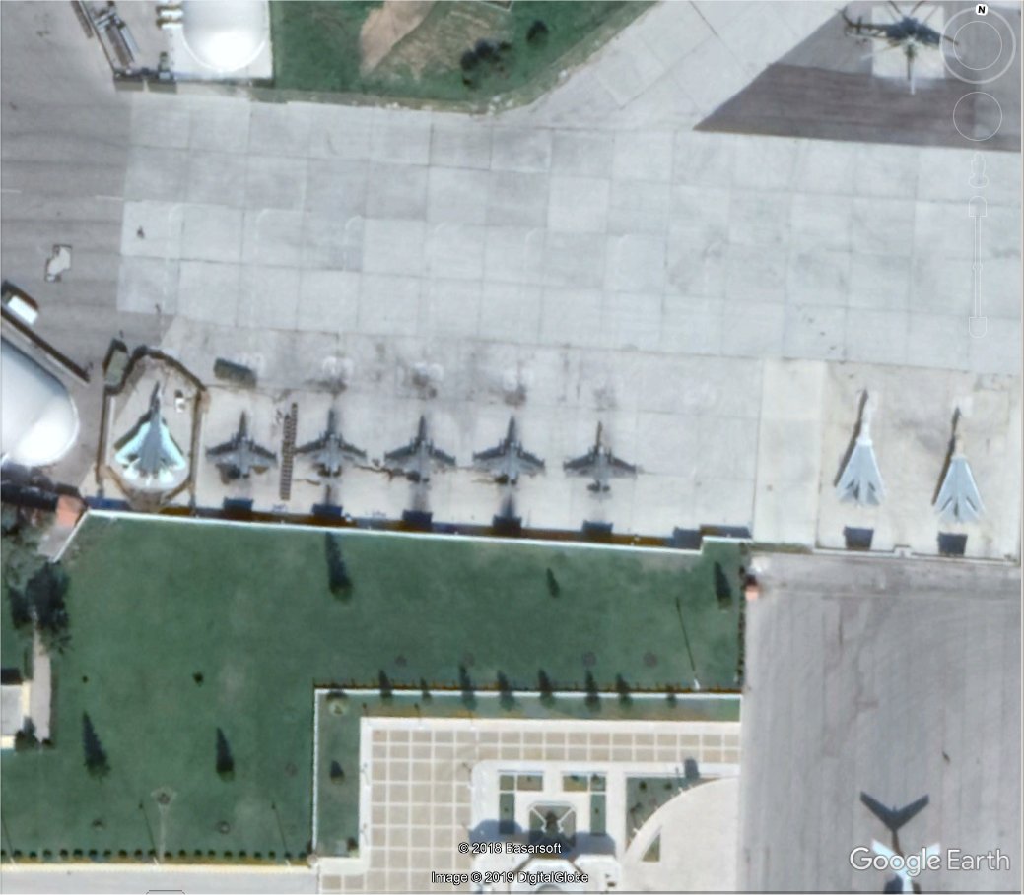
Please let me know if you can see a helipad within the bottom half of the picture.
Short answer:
No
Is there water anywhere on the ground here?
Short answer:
No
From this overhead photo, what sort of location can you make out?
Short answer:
airport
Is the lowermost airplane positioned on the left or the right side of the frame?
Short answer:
right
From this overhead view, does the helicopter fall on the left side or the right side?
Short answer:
right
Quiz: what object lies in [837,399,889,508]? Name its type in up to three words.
airplane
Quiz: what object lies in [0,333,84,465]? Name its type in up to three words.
hangar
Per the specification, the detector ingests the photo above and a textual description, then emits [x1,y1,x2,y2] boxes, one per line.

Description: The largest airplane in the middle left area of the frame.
[116,389,186,485]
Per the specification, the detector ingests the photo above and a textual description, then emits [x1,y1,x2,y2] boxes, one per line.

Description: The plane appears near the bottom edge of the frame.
[873,841,941,895]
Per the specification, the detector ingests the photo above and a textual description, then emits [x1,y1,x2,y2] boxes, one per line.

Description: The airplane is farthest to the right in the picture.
[932,408,985,522]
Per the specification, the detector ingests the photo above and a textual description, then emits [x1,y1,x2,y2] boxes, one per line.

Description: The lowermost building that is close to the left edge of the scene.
[0,682,29,747]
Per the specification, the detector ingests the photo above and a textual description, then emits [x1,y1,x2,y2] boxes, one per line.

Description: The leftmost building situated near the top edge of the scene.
[179,0,271,70]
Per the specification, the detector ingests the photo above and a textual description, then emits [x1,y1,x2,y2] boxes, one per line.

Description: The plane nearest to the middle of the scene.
[476,422,548,486]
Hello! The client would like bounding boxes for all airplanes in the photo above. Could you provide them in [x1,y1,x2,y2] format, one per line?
[565,426,636,493]
[837,399,889,508]
[932,408,985,522]
[873,841,941,895]
[207,411,279,480]
[386,419,458,483]
[116,389,186,485]
[297,415,369,480]
[476,422,548,486]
